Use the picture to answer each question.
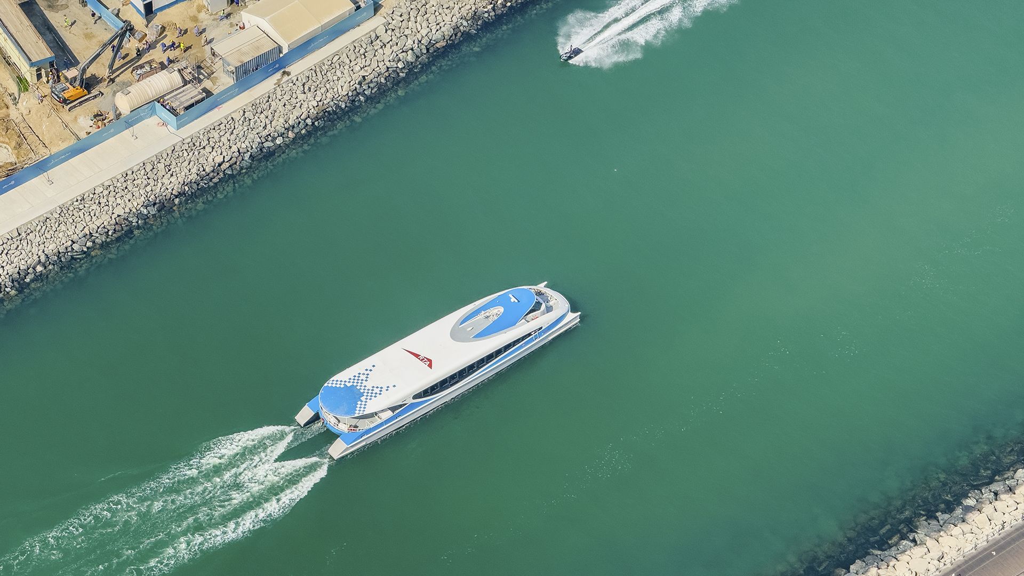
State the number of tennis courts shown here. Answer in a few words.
0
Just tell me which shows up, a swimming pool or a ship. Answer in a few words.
ship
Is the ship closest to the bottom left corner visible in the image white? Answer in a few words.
Yes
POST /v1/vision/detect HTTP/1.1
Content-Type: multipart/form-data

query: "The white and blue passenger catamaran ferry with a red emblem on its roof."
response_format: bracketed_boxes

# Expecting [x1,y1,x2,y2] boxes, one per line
[295,280,582,467]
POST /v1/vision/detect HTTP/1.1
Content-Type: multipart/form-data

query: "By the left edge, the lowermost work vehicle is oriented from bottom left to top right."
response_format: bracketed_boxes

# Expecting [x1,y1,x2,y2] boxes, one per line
[51,16,131,111]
